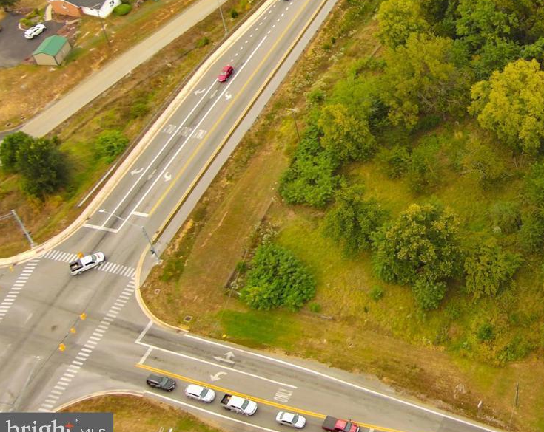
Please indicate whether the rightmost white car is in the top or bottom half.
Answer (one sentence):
You can find the rightmost white car in the bottom half.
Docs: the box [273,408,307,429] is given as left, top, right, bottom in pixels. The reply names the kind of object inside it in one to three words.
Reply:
car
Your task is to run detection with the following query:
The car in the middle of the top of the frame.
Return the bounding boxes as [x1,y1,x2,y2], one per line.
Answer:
[216,63,233,80]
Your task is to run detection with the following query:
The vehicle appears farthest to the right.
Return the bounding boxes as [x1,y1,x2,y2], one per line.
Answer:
[319,413,360,432]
